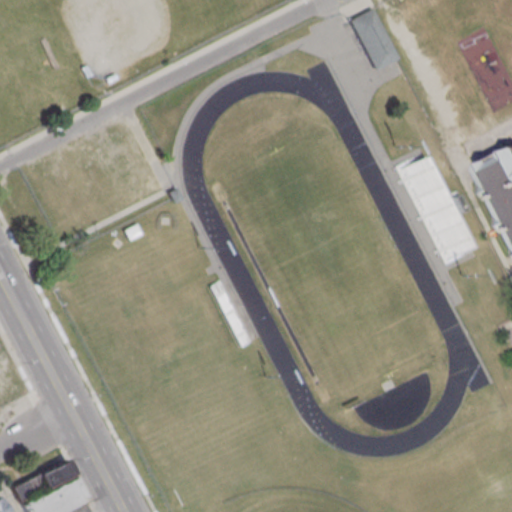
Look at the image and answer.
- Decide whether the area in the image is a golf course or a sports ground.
sports ground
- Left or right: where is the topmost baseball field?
left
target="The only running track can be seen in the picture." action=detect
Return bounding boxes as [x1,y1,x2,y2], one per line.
[182,62,490,459]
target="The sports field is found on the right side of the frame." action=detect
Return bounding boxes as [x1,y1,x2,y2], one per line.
[202,92,450,438]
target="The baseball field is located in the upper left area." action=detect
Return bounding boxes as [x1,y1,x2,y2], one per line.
[61,0,170,80]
